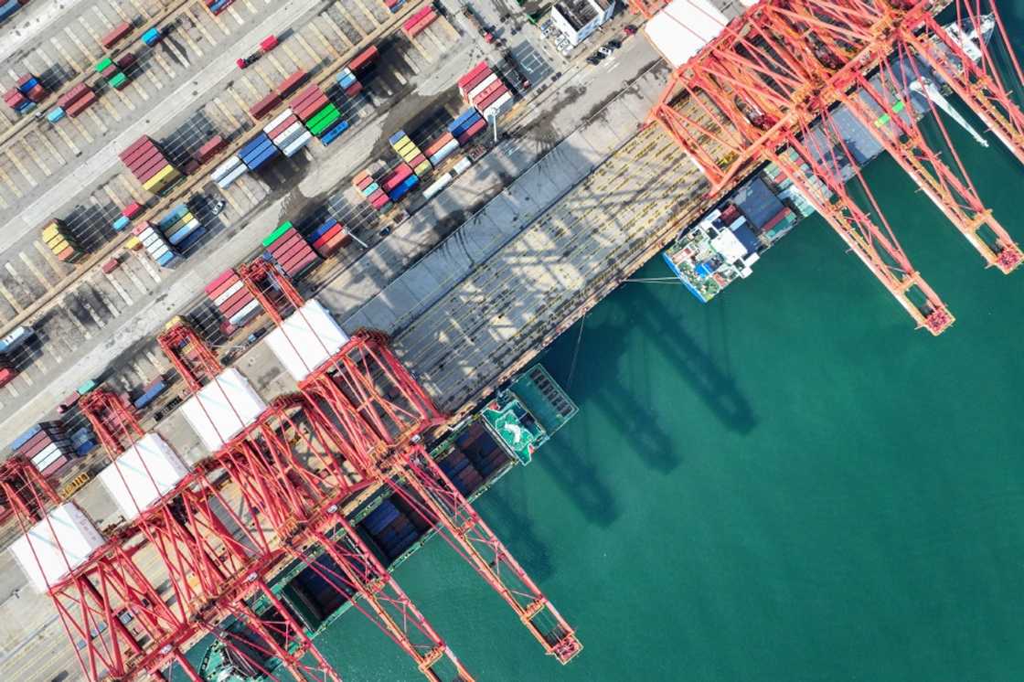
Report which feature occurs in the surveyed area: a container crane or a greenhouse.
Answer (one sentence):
The image shows a container crane.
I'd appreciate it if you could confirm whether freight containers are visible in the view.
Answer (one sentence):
Yes, there is a freight container in the image.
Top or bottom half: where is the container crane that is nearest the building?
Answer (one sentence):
The top half of the photo is where the container crane that is nearest the building is.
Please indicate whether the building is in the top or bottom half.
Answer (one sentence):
Seen from above, the building lies in the top half of the view.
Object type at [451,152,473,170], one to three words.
vehicle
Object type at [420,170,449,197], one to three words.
shipping container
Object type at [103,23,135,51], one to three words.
shipping container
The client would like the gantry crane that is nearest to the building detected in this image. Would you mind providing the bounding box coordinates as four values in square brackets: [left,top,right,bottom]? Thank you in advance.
[632,0,955,342]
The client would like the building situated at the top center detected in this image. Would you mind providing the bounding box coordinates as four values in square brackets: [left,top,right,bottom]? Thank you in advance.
[550,0,616,47]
